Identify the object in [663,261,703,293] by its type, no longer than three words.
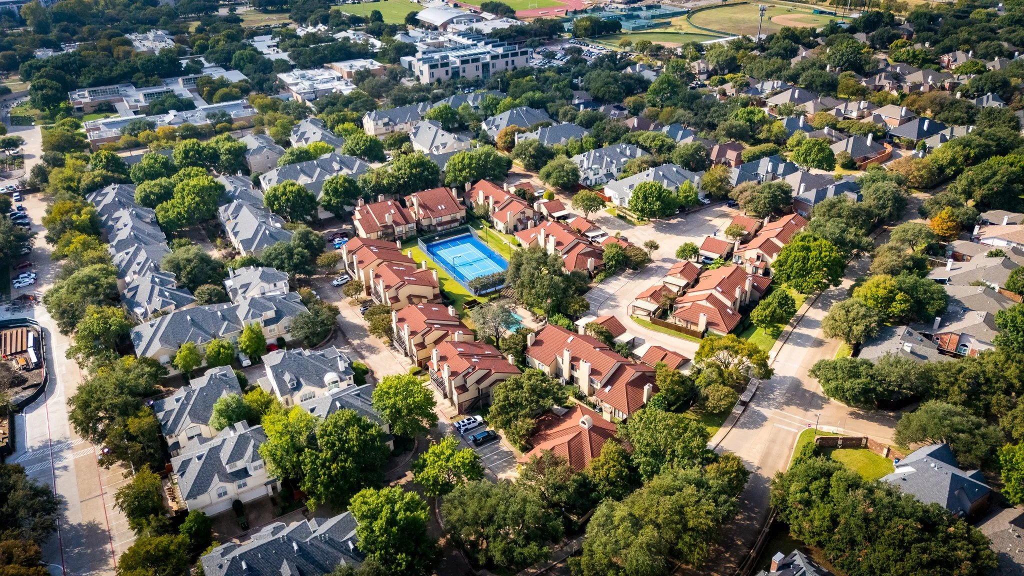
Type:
building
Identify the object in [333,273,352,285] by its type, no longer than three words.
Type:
vehicle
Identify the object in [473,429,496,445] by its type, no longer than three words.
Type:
car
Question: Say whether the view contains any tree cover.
Yes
